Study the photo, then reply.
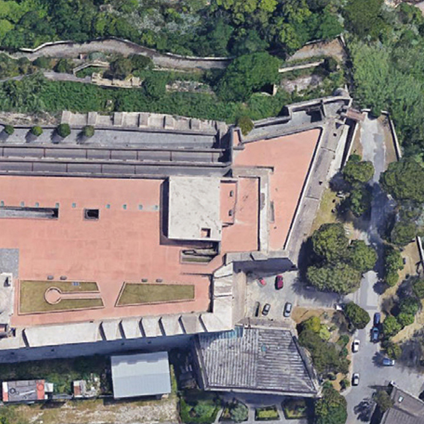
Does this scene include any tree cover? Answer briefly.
Yes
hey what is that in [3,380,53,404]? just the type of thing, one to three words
shed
